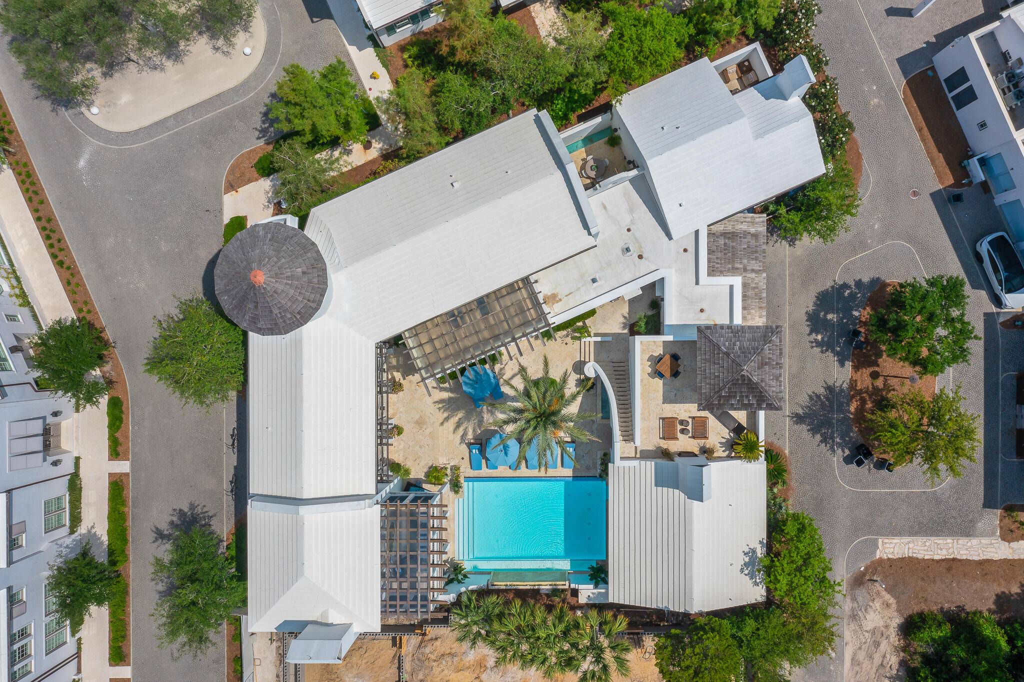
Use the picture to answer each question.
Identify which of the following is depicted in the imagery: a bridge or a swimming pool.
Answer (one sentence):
Visible in the photo is a swimming pool.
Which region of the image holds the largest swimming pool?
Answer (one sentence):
You can find the largest swimming pool in the bottom area of the picture.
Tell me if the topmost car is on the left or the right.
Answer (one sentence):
It is on the right.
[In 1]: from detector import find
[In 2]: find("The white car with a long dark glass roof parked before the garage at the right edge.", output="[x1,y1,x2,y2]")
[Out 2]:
[979,231,1024,314]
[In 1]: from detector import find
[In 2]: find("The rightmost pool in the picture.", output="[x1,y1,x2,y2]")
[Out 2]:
[452,478,606,565]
